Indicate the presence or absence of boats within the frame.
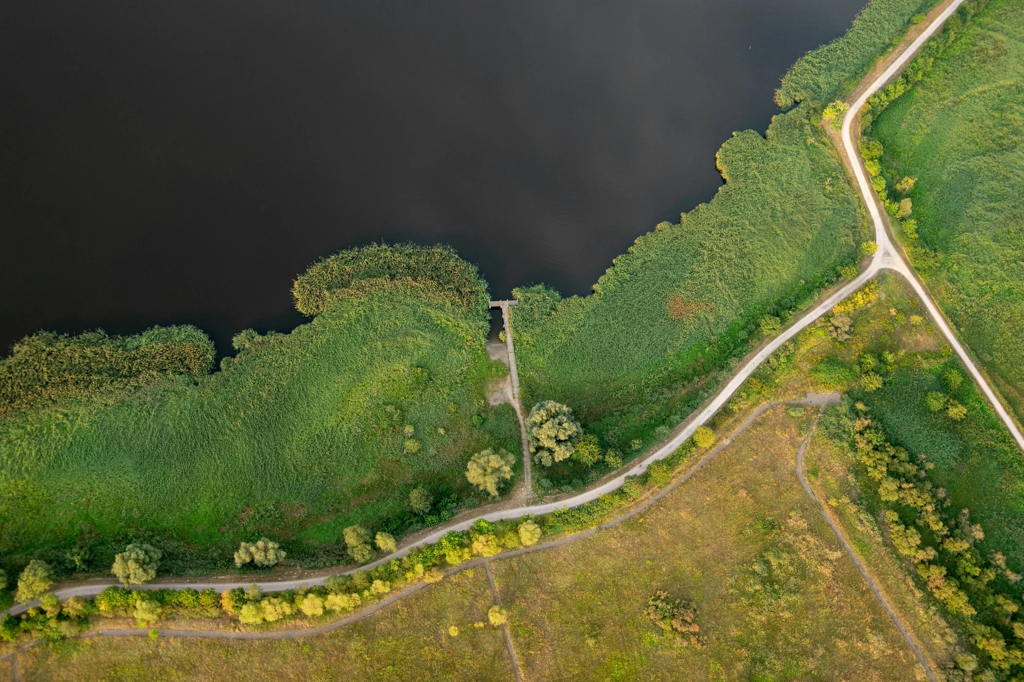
No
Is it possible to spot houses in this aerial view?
No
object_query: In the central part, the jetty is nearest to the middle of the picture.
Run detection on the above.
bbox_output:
[489,299,519,399]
